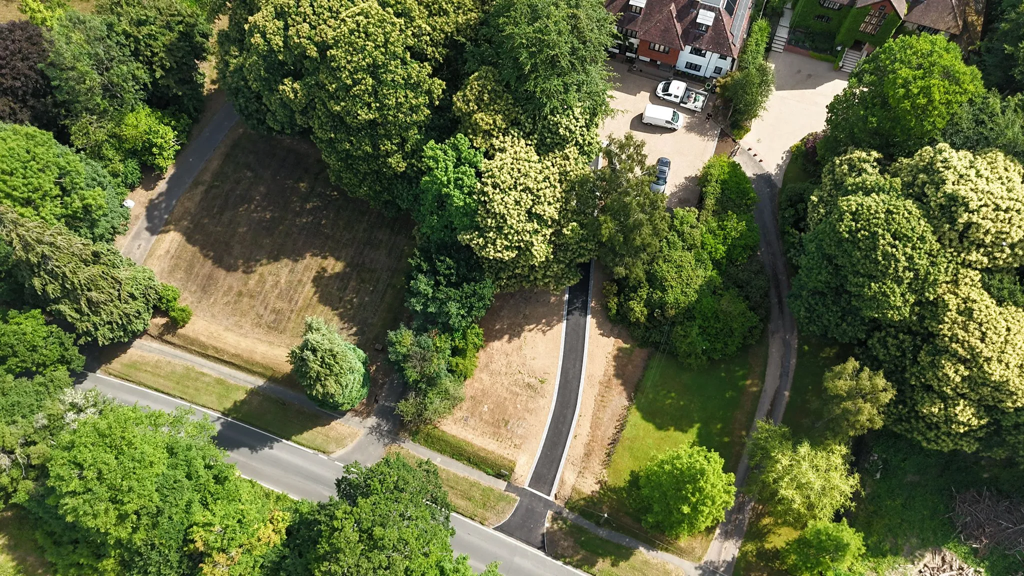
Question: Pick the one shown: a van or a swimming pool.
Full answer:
The image shows a van.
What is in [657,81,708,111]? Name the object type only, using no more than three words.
truck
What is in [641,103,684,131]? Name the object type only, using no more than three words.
van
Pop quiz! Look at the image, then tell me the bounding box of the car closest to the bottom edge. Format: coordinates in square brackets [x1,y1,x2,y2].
[652,152,674,189]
